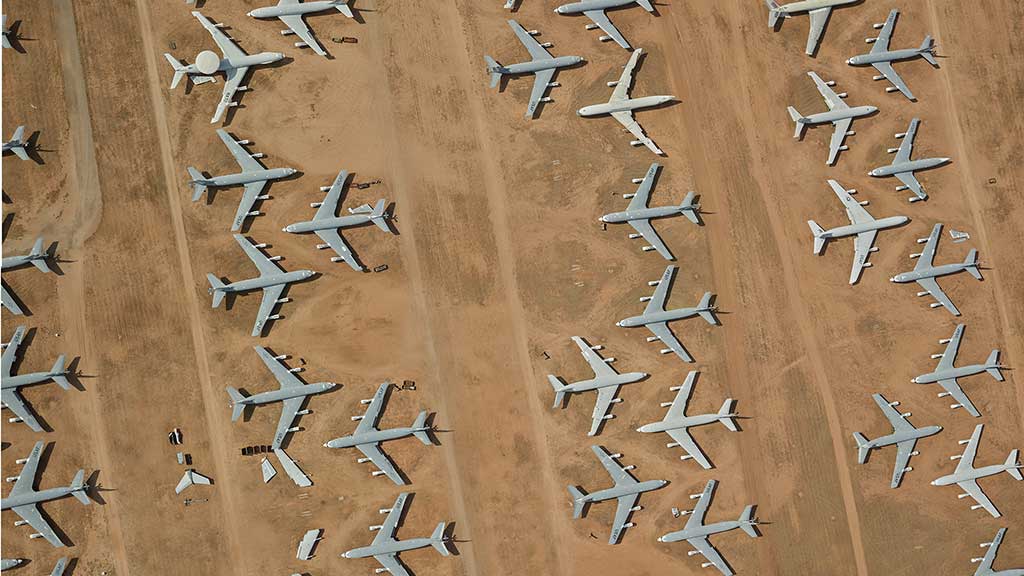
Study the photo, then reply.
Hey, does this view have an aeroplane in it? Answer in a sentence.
Yes, the image includes an aeroplane.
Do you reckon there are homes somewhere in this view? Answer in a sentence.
No, this view has no home in it.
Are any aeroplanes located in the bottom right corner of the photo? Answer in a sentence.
Yes, there is an aeroplane in the bottom right corner of the photo.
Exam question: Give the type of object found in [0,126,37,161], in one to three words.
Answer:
airplane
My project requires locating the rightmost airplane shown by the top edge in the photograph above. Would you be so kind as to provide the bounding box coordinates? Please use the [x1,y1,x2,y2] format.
[845,9,941,100]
